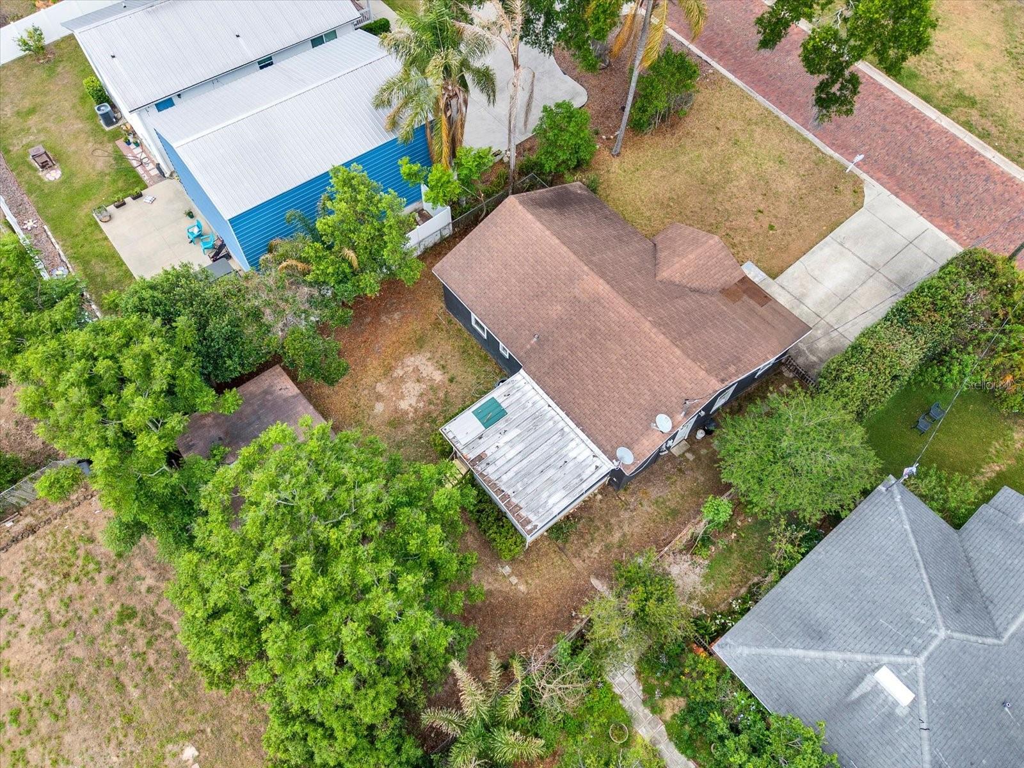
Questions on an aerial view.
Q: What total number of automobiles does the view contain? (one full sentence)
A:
I count no automobiles.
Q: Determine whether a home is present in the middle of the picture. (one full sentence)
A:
Yes, a home is visible in the middle of the picture.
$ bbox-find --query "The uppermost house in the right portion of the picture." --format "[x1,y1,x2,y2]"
[431,177,810,489]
